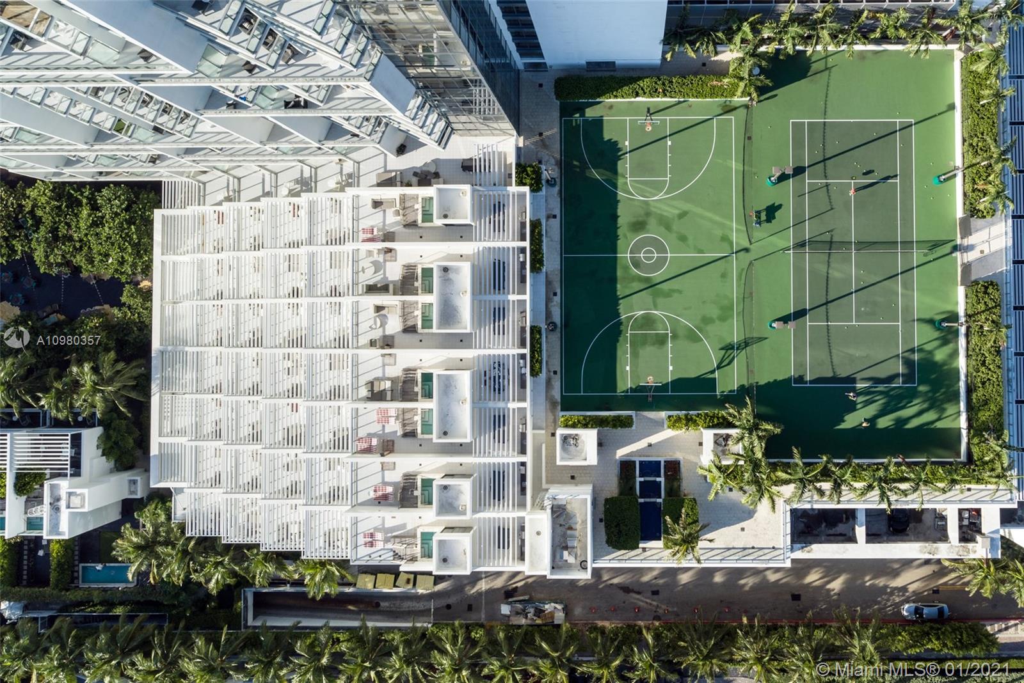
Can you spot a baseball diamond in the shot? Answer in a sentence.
No, there isn't any baseball diamond down there.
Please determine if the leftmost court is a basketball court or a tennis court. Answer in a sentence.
Specifically, the leftmost court is a basketball court.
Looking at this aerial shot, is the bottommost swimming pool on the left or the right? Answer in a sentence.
You can find the bottommost swimming pool on the left side of the picture.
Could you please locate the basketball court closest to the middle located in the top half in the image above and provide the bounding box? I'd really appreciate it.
[561,101,749,413]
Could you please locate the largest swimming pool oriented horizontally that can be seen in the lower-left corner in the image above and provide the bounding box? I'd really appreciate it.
[79,565,136,586]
